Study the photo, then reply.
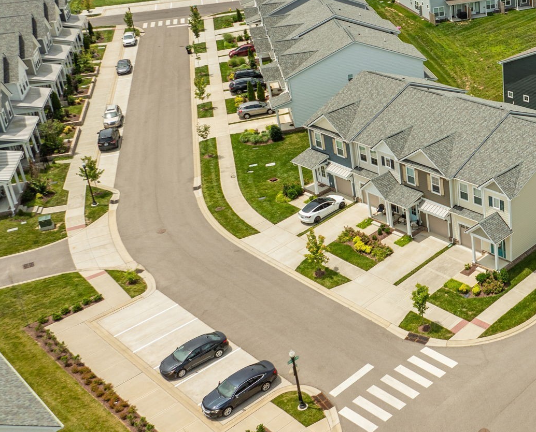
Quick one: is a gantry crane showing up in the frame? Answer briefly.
No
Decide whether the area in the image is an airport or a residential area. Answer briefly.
residential area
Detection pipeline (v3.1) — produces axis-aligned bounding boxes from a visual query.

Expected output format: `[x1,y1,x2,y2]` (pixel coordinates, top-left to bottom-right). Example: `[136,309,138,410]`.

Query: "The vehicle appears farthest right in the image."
[294,194,345,223]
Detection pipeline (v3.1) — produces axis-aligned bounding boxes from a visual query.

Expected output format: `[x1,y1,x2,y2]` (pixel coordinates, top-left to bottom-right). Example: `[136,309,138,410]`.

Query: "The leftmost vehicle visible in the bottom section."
[152,327,230,380]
